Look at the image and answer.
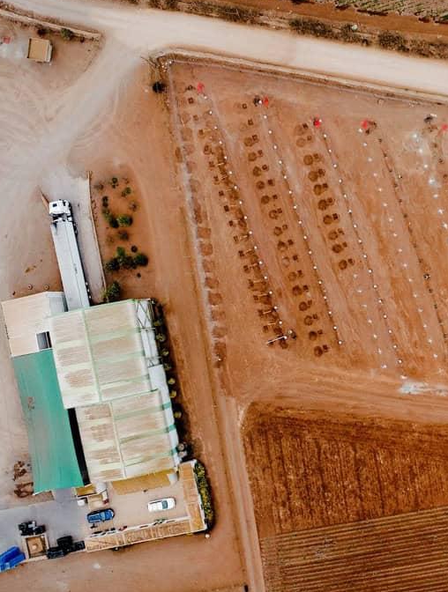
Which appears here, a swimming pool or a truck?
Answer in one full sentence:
Looking from above, you can make out a truck.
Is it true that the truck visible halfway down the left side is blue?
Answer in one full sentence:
No, the truck visible halfway down the left side is white.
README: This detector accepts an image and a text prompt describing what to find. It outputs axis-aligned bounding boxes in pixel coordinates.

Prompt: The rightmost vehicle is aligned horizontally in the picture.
[145,497,174,514]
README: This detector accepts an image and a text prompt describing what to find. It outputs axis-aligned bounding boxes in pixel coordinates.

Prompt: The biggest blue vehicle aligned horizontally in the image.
[83,509,115,527]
